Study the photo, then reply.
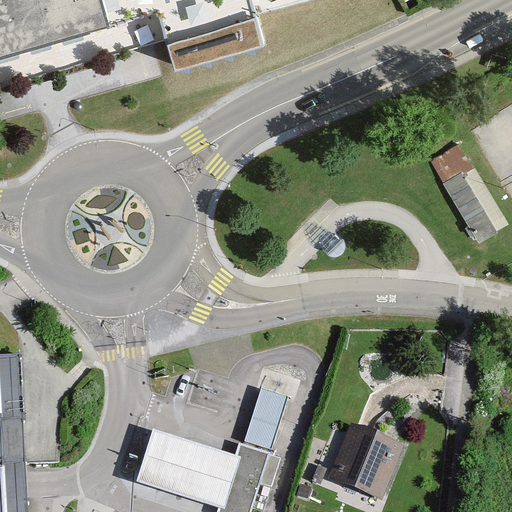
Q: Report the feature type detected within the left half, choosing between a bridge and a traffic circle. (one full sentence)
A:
What appears within the left half is a traffic circle.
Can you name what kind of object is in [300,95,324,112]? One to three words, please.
car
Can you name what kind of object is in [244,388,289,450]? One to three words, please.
building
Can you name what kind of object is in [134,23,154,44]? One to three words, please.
umbrella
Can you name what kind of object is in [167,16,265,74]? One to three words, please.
building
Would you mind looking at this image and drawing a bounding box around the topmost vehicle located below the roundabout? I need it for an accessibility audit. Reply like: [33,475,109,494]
[176,373,190,396]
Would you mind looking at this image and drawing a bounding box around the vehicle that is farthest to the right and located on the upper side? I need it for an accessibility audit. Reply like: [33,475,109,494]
[464,33,486,50]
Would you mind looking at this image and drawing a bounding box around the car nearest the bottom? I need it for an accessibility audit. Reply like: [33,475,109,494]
[124,452,137,475]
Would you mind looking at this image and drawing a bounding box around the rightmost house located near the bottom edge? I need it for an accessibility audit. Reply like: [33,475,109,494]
[328,424,404,500]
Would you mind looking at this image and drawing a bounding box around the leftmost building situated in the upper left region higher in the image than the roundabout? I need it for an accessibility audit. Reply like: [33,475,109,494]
[0,0,107,64]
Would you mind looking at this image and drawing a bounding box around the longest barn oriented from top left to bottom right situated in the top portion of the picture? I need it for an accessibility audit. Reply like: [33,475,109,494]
[432,144,509,243]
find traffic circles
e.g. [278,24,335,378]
[21,140,198,317]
